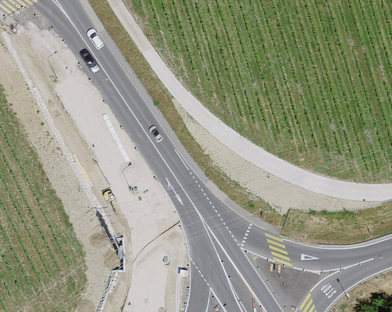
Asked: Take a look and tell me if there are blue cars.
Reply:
No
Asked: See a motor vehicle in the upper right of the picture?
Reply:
No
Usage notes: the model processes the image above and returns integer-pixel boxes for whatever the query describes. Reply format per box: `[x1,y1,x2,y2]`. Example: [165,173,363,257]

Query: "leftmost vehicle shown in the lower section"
[103,188,116,212]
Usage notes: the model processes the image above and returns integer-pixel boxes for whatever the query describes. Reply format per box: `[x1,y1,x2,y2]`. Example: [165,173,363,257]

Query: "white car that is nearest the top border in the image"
[86,27,104,51]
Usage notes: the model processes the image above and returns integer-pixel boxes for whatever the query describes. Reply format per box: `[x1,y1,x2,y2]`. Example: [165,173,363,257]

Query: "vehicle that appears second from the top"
[79,48,98,72]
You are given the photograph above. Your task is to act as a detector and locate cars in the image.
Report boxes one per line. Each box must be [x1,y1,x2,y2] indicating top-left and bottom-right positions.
[86,27,104,51]
[148,124,163,144]
[79,48,98,72]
